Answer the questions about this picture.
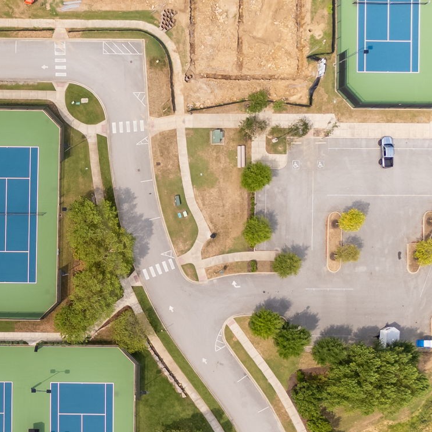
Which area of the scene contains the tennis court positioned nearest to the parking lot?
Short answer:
top right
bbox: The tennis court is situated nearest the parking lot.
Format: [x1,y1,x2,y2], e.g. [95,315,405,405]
[335,0,432,110]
